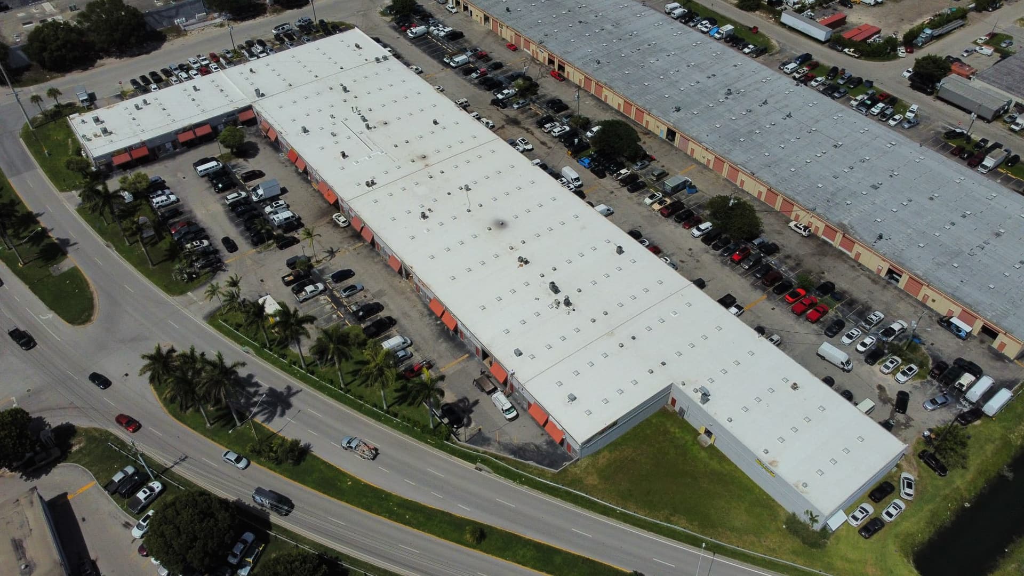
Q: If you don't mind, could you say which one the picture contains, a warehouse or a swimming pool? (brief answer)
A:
warehouse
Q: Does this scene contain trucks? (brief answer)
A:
Yes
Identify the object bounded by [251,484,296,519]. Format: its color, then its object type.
black van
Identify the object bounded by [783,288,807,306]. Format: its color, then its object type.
red car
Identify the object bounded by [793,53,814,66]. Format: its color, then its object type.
black vehicle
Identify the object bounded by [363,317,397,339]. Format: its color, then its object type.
black truck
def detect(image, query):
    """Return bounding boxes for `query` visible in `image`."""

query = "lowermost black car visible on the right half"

[855,517,886,544]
